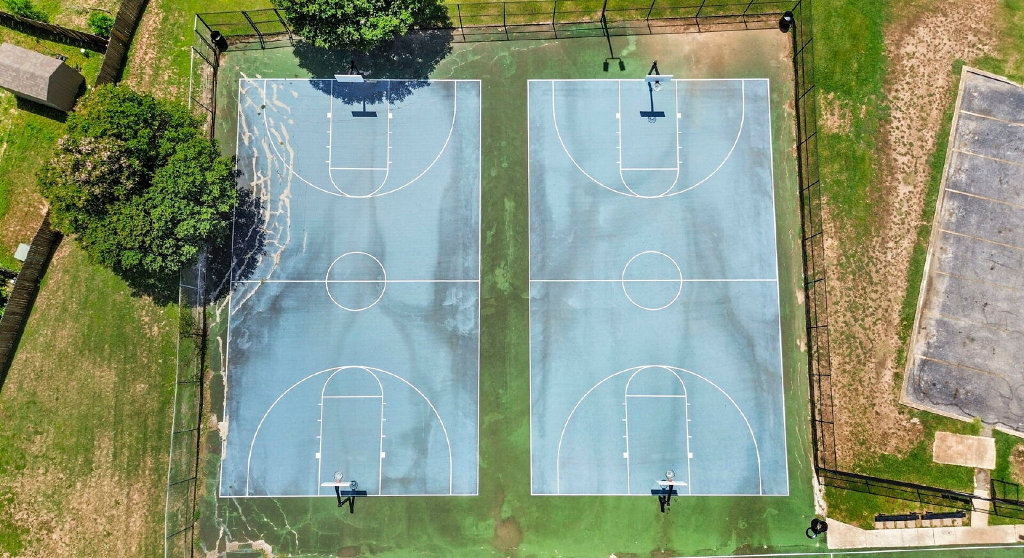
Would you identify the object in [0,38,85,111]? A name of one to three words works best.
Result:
shed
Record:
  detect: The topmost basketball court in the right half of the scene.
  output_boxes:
[528,80,787,495]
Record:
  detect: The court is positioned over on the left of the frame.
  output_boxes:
[221,75,480,496]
